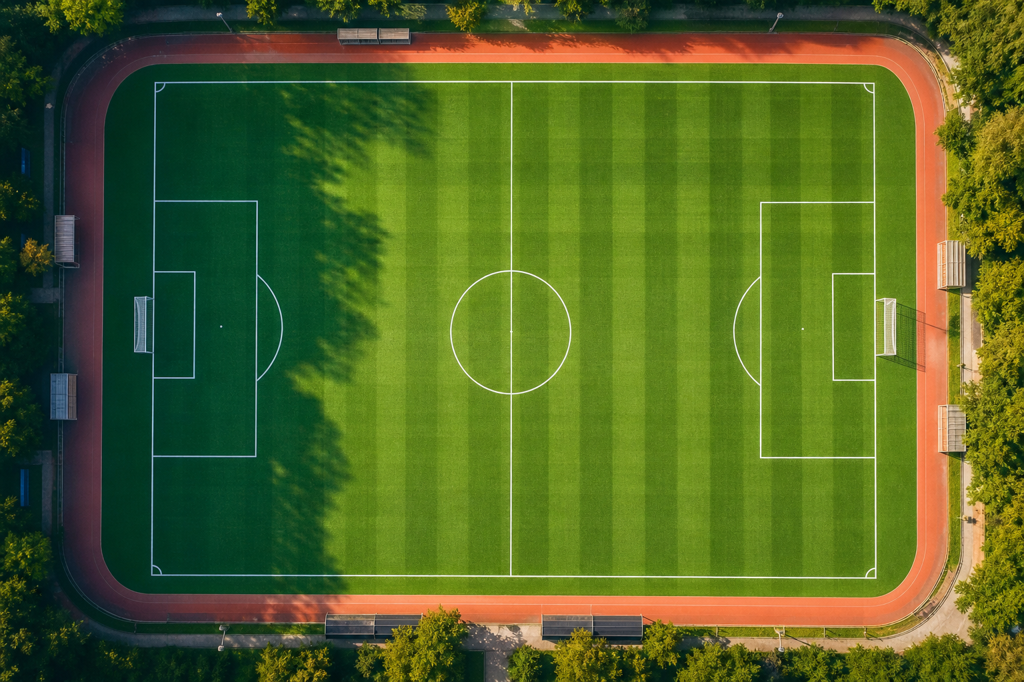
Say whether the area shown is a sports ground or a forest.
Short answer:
sports ground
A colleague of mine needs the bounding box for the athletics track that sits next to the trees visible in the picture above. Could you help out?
[63,34,946,626]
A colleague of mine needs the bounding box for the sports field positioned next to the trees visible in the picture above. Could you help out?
[101,63,917,598]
